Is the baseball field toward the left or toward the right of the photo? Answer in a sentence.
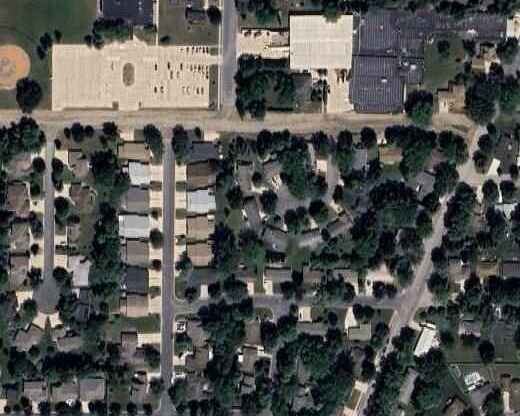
It is on the left.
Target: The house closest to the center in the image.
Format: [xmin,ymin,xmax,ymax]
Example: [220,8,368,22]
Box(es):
[240,198,266,227]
